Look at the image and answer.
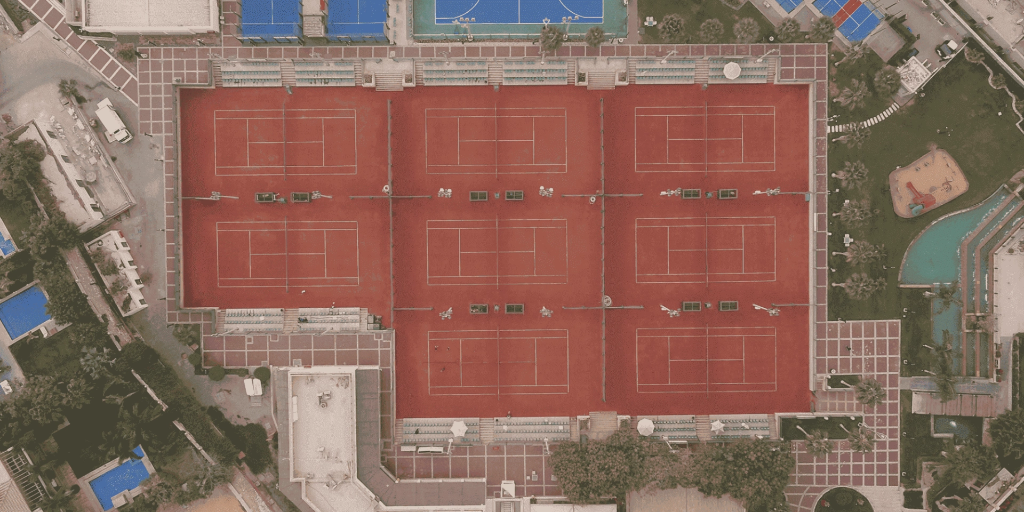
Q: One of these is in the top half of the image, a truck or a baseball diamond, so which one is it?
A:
truck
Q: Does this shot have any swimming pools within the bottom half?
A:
Yes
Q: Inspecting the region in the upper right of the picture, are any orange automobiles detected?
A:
No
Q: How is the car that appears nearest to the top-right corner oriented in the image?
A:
diagonally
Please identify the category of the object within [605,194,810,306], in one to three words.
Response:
tennis court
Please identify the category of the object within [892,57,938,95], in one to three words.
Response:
shed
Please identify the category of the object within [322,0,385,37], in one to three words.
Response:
sports court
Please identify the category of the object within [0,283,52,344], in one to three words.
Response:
swimming pool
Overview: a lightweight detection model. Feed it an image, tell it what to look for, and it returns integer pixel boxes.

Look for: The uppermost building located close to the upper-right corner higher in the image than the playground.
[864,22,903,62]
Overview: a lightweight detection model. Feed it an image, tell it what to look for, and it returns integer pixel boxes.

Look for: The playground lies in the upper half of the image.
[889,149,969,218]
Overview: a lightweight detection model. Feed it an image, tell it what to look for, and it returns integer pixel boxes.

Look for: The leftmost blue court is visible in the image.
[234,0,301,38]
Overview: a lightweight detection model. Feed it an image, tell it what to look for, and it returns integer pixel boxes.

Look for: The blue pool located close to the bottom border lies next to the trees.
[84,441,153,512]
